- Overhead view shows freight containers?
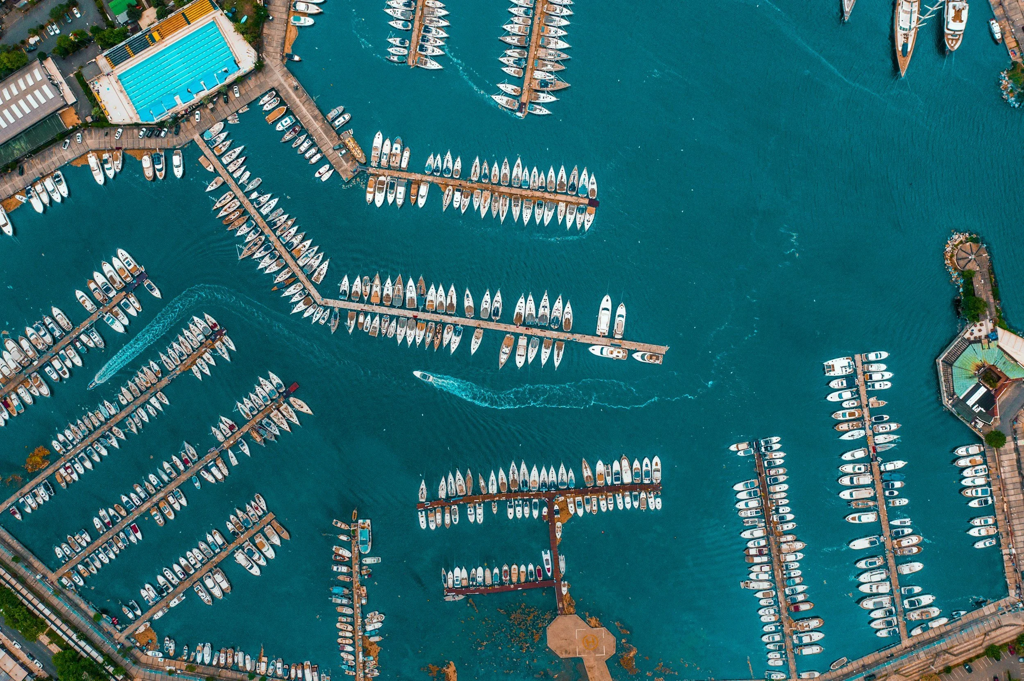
No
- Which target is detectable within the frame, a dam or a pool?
pool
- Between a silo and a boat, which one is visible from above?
boat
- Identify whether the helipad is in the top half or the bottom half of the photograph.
bottom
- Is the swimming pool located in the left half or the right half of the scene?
left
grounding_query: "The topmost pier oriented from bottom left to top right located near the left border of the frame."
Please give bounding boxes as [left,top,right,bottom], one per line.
[0,271,149,397]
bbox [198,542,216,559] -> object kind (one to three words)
boat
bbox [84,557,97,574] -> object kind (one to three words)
boat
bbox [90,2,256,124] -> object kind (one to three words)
swimming pool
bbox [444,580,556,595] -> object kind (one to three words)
pier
